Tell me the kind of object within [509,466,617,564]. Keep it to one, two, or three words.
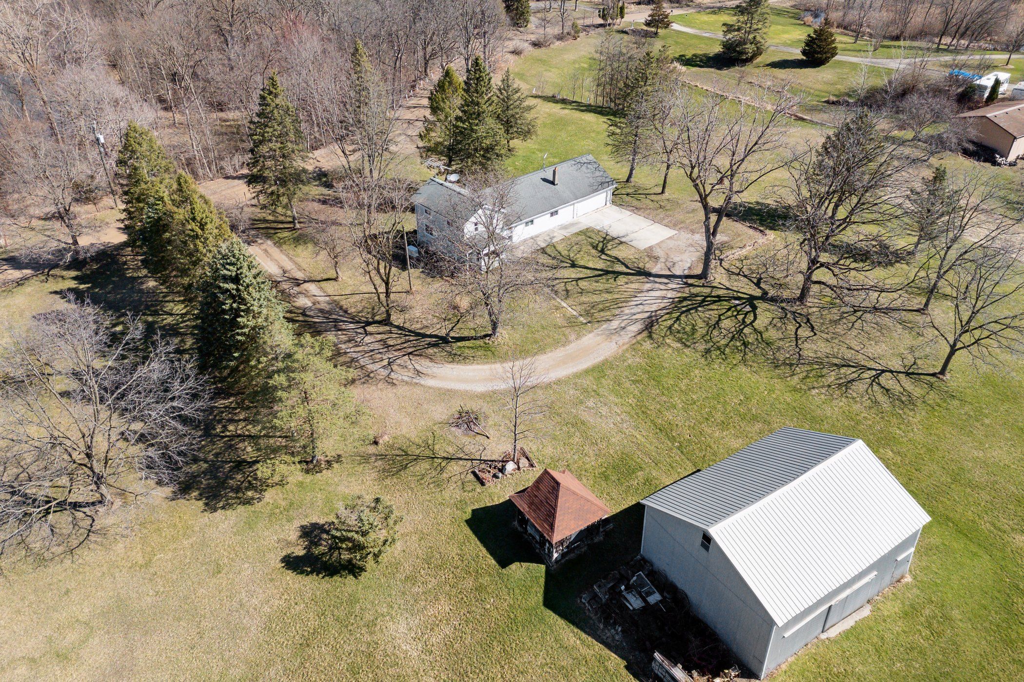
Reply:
shed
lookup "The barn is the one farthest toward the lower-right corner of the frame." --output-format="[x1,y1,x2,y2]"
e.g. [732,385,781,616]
[638,423,933,679]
